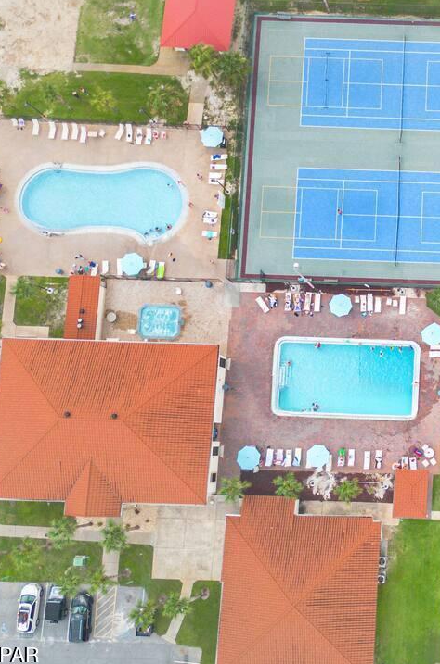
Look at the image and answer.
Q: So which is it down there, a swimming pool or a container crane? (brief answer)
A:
swimming pool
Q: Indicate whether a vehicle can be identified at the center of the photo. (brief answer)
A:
No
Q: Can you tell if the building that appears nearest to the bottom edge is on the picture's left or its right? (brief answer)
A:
right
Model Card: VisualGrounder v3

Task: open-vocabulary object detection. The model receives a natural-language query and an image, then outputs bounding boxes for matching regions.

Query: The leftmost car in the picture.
[15,582,46,635]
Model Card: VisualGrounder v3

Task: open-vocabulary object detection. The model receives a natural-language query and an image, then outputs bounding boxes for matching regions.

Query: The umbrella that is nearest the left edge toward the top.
[120,252,143,276]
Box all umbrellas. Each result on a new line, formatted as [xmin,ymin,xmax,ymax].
[120,252,143,276]
[236,444,260,469]
[306,444,330,468]
[329,293,352,315]
[420,321,440,344]
[202,124,225,146]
